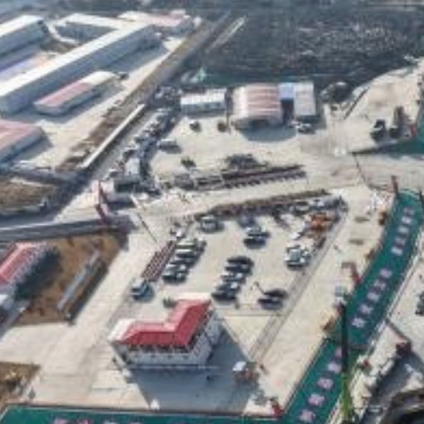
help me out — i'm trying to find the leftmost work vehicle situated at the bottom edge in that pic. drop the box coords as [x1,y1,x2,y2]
[267,386,283,415]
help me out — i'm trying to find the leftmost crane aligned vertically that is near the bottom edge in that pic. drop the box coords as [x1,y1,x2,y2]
[322,304,362,424]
